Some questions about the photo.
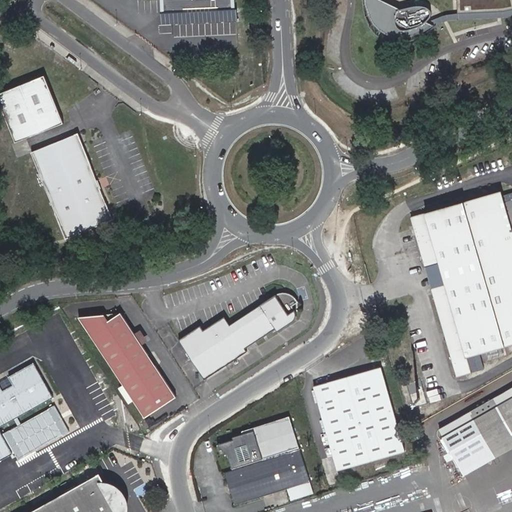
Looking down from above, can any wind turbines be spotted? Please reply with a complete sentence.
No, there appears to be no wind turbine in this shot.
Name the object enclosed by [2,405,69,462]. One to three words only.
building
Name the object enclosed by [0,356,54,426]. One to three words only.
building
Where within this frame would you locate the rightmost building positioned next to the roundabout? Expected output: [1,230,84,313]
[410,192,512,378]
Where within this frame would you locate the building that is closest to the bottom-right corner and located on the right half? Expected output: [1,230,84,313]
[438,388,512,477]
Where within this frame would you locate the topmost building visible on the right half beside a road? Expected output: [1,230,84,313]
[362,0,432,37]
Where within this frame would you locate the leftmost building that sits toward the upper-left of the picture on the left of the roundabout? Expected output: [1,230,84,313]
[0,76,62,143]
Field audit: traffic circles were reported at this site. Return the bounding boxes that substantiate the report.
[205,76,354,257]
